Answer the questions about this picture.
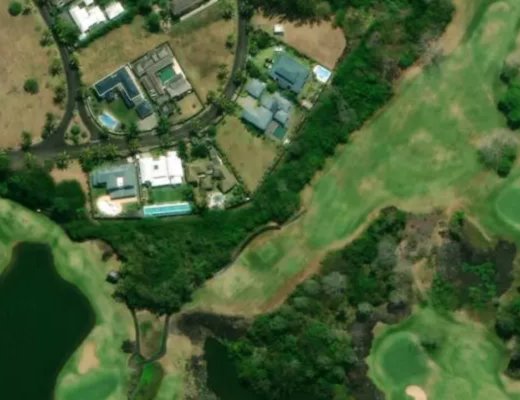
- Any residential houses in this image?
Yes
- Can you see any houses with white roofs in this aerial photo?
Yes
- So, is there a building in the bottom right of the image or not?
No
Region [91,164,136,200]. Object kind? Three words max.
house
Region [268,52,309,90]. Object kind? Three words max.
house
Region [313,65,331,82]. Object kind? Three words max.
swimming pool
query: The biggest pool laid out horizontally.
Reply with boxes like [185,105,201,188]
[143,202,190,216]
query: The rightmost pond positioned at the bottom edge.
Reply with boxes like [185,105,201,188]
[206,339,257,400]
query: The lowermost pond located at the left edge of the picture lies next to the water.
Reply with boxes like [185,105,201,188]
[0,245,93,400]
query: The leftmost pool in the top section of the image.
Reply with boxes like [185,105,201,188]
[100,111,119,129]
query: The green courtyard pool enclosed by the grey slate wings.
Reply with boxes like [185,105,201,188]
[156,64,176,83]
